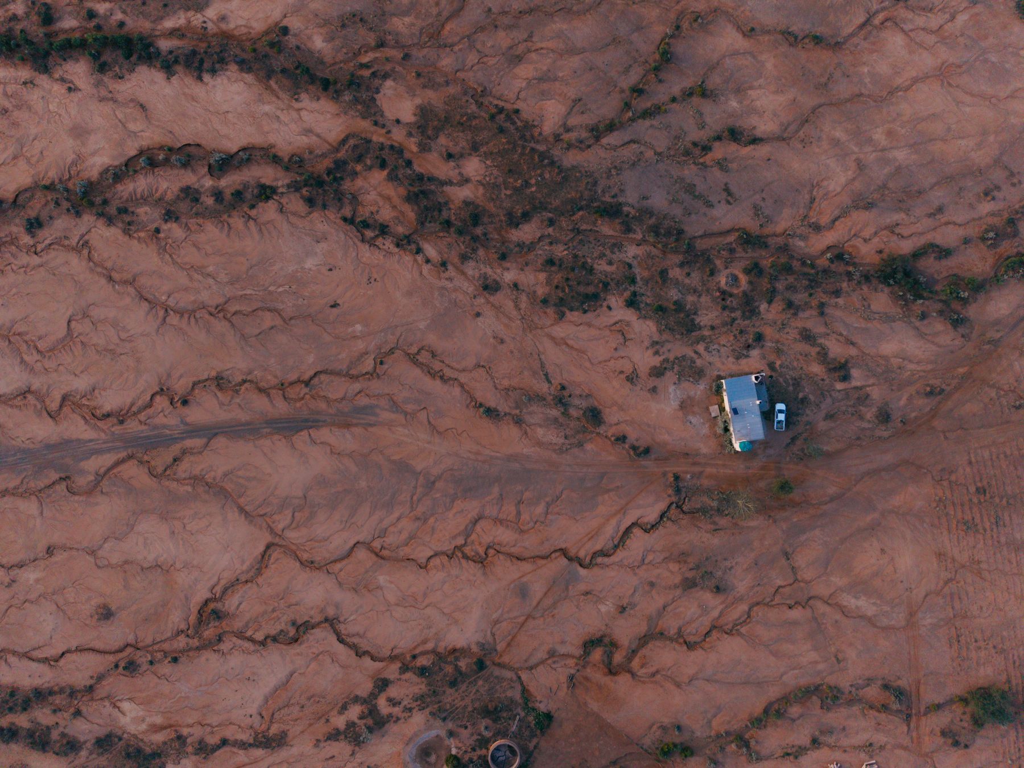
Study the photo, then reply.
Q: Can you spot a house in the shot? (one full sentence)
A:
Yes, a house appears in the view.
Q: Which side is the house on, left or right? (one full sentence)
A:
You can find the house on the right side of the picture.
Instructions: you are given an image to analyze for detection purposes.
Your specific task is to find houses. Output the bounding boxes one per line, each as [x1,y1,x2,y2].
[718,373,770,451]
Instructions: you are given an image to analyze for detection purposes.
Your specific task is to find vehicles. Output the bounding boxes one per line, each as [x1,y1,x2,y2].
[773,403,787,432]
